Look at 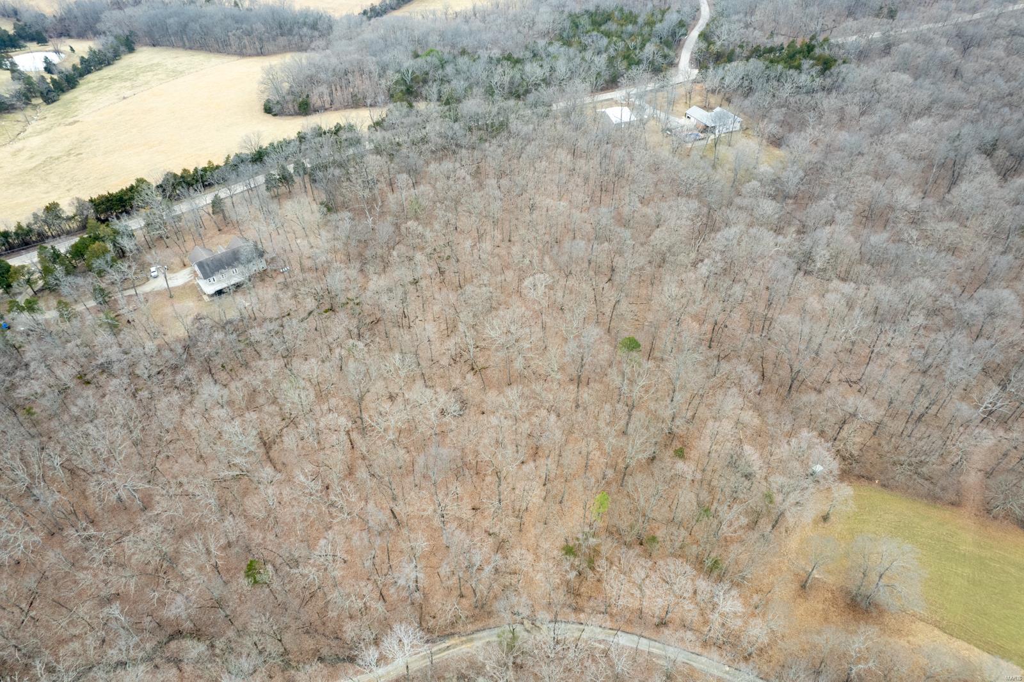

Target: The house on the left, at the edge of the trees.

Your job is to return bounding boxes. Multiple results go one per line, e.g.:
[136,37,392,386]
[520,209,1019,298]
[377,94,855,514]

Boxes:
[185,234,266,302]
